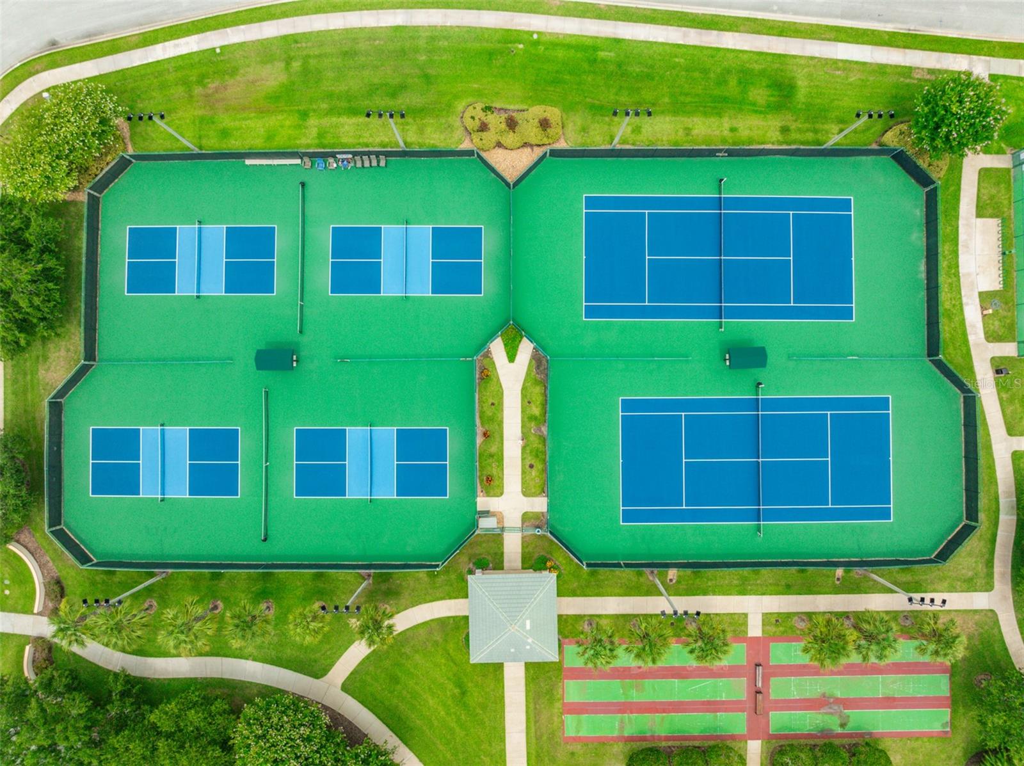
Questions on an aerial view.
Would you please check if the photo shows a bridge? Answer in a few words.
No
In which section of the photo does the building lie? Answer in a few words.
bottom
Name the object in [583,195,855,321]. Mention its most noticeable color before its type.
blue tennis court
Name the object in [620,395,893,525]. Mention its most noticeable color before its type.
blue tennis court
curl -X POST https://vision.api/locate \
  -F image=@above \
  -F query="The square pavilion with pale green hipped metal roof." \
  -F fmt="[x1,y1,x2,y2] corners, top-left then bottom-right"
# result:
[468,567,558,664]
